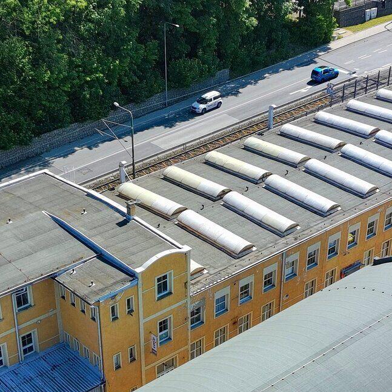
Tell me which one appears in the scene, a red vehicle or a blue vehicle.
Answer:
blue vehicle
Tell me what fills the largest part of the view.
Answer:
buildings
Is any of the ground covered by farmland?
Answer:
No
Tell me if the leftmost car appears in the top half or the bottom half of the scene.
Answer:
top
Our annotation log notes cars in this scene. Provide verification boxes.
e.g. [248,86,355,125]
[190,89,225,112]
[311,62,340,82]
